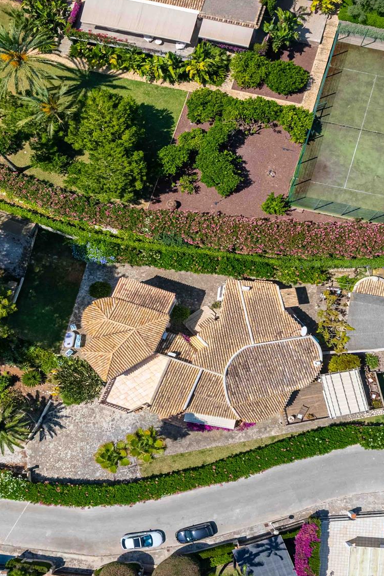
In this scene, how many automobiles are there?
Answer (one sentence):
There are 2 automobiles in the image.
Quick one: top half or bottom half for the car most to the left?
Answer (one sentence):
The bottom half of the photo is where the car most to the left is.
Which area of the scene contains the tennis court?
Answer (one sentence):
Look in the top right portion of the view to spot the tennis court.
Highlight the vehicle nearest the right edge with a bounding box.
[176,521,218,545]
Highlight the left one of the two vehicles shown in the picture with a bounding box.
[121,528,164,551]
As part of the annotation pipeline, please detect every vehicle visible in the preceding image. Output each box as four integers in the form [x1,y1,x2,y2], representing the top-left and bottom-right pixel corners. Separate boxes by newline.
[121,528,164,551]
[176,521,218,545]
